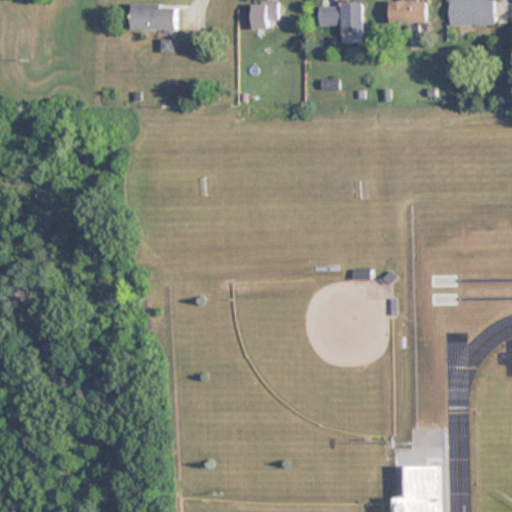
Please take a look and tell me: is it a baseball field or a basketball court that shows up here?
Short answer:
baseball field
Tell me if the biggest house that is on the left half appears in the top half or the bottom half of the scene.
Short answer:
top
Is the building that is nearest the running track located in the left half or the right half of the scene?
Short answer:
right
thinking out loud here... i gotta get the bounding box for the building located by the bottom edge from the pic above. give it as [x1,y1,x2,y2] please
[391,465,442,512]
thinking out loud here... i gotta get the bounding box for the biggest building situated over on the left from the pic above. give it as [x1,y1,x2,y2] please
[128,3,180,31]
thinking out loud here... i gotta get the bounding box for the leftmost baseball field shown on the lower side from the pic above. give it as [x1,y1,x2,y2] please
[233,281,393,438]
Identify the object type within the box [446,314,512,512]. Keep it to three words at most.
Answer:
running track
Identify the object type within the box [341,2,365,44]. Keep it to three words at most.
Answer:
house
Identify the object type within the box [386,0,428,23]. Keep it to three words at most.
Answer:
house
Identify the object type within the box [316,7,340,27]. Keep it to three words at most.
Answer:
building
